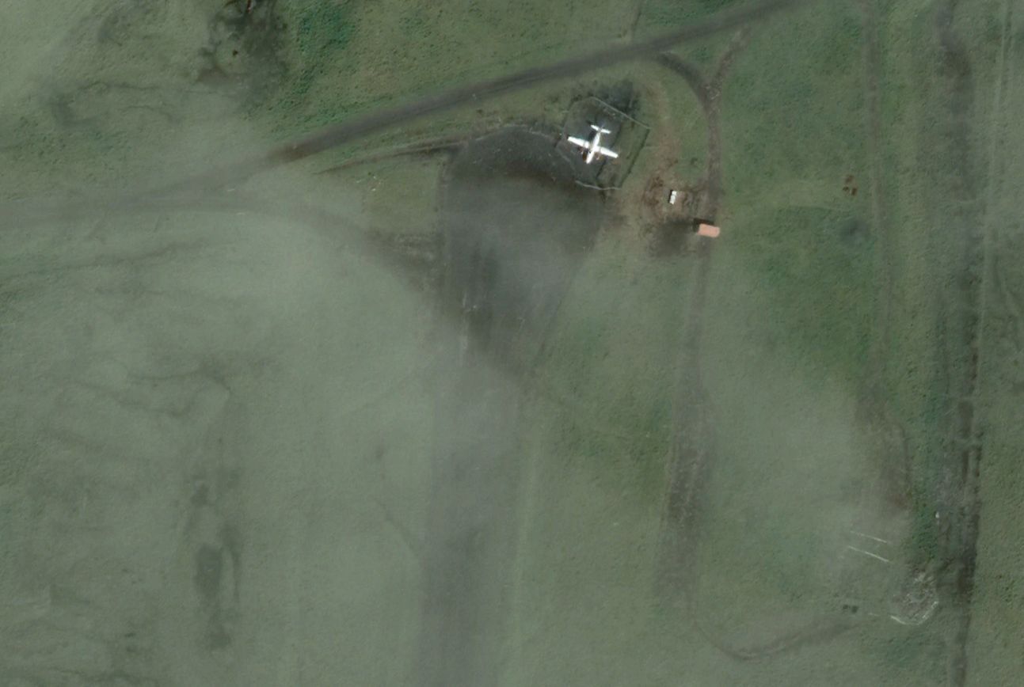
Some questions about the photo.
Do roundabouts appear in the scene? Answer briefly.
No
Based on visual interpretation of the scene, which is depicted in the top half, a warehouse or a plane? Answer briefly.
plane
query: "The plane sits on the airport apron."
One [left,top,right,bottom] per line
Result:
[569,124,618,164]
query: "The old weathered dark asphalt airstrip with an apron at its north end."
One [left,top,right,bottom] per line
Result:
[413,96,619,687]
